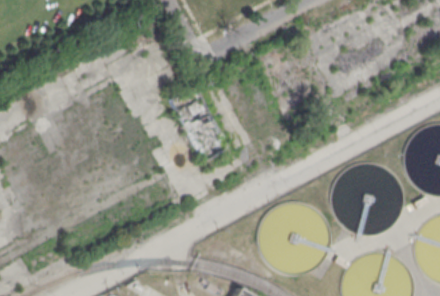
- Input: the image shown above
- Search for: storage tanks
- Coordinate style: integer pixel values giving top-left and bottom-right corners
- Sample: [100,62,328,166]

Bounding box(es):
[401,120,440,196]
[340,246,416,296]
[408,212,440,286]
[255,200,336,276]
[328,160,406,240]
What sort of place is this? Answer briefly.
industrial area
